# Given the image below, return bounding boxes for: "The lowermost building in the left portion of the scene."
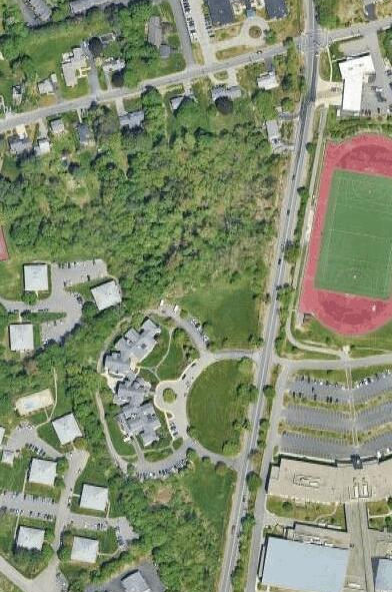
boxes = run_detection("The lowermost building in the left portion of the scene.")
[121,571,150,592]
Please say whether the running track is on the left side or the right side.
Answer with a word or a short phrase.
right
